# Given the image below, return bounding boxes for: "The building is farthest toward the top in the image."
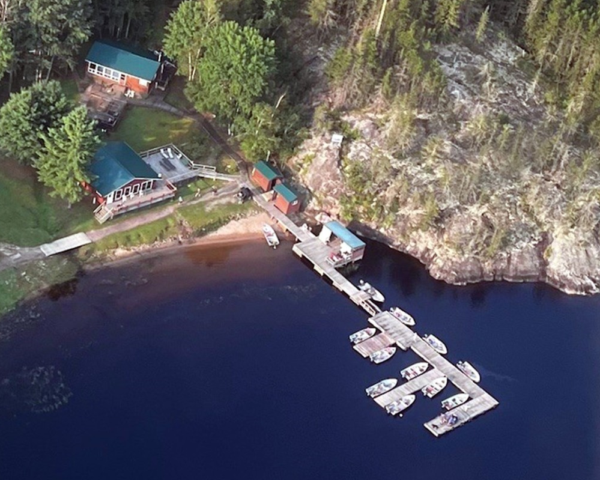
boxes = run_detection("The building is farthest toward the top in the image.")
[85,39,177,99]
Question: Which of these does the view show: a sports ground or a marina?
marina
